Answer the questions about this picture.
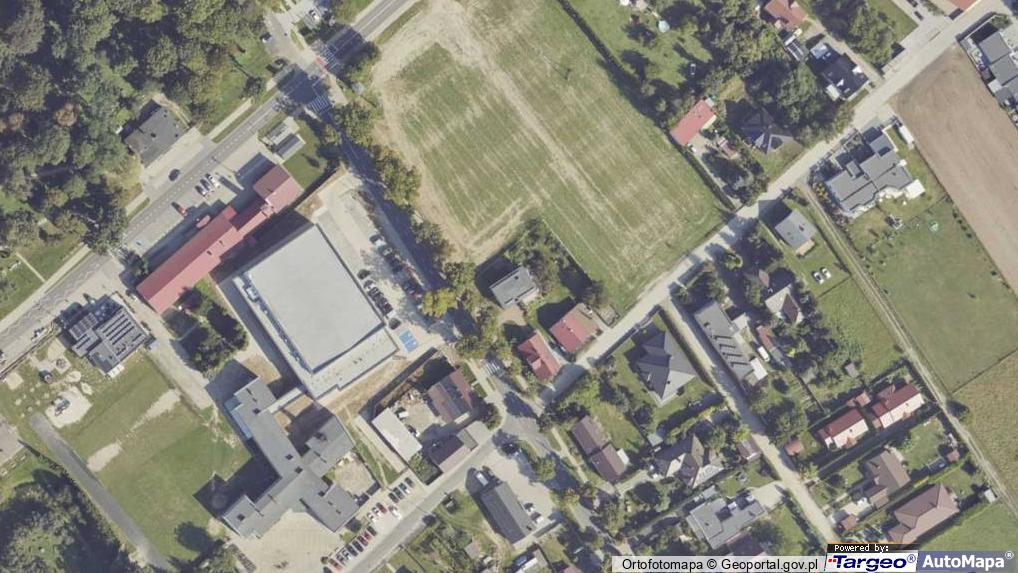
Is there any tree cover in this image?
Yes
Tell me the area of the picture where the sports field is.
bottom left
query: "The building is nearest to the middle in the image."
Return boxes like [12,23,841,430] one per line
[490,266,539,308]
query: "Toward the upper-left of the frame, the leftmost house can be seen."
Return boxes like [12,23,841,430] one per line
[125,107,186,167]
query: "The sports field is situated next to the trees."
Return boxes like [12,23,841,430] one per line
[60,350,235,573]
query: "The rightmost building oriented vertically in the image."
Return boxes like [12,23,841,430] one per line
[977,32,1018,108]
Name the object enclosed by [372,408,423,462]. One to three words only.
building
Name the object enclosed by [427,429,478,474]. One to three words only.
house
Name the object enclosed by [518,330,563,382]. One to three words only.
house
